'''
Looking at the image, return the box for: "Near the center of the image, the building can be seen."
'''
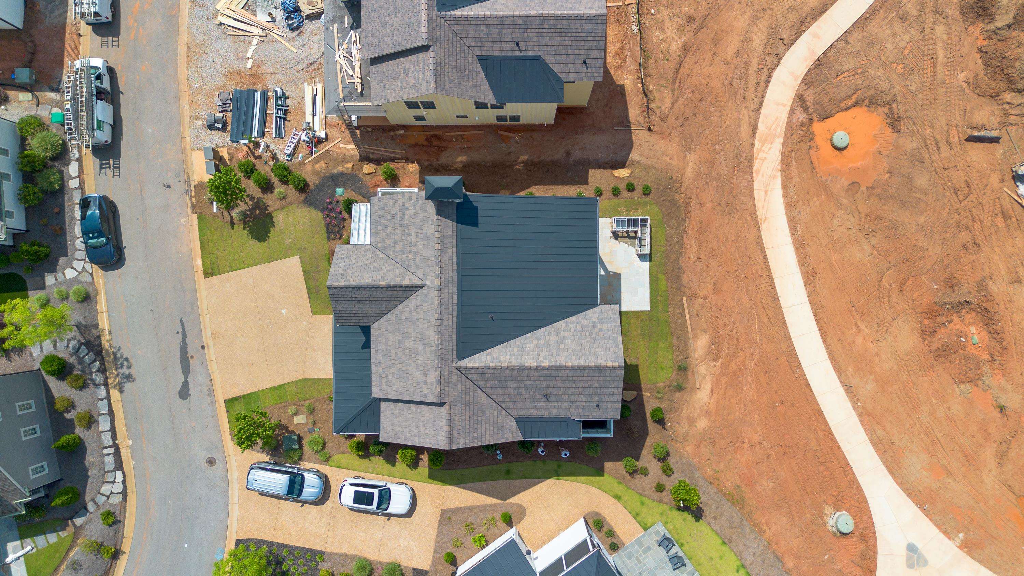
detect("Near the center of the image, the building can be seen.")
[326,176,624,449]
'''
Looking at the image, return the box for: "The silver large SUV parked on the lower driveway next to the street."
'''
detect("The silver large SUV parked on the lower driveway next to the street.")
[246,460,330,504]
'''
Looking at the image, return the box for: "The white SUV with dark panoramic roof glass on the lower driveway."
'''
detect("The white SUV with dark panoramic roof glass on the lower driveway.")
[338,476,415,519]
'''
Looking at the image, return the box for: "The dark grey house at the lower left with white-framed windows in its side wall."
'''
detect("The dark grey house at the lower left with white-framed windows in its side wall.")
[0,369,61,518]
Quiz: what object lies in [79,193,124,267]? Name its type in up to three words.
car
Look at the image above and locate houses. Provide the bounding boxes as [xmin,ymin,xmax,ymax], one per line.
[324,0,608,128]
[326,176,624,449]
[0,0,25,30]
[0,116,28,247]
[0,369,61,518]
[447,516,625,576]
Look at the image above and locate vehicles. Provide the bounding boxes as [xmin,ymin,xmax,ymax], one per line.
[79,193,124,267]
[64,0,118,31]
[246,460,330,504]
[64,59,119,148]
[338,476,415,519]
